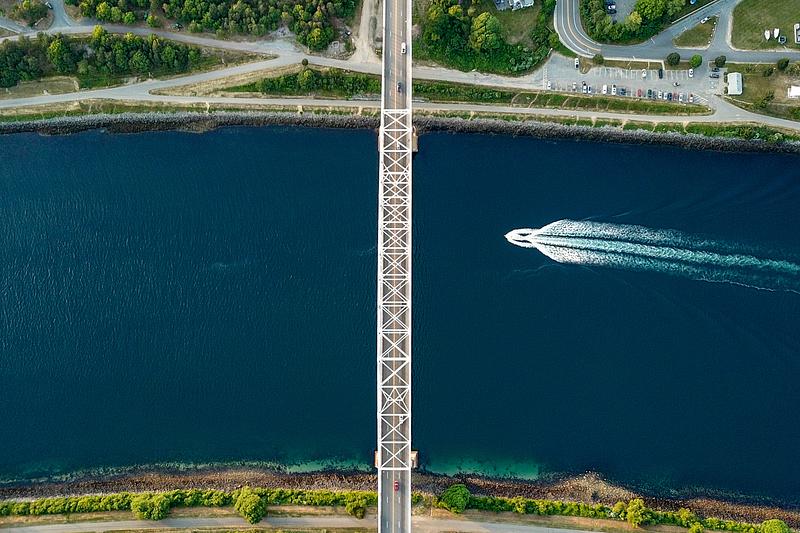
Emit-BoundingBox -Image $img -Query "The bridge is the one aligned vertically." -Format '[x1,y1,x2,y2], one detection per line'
[375,0,419,533]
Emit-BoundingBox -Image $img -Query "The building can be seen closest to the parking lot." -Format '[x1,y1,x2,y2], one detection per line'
[726,72,742,95]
